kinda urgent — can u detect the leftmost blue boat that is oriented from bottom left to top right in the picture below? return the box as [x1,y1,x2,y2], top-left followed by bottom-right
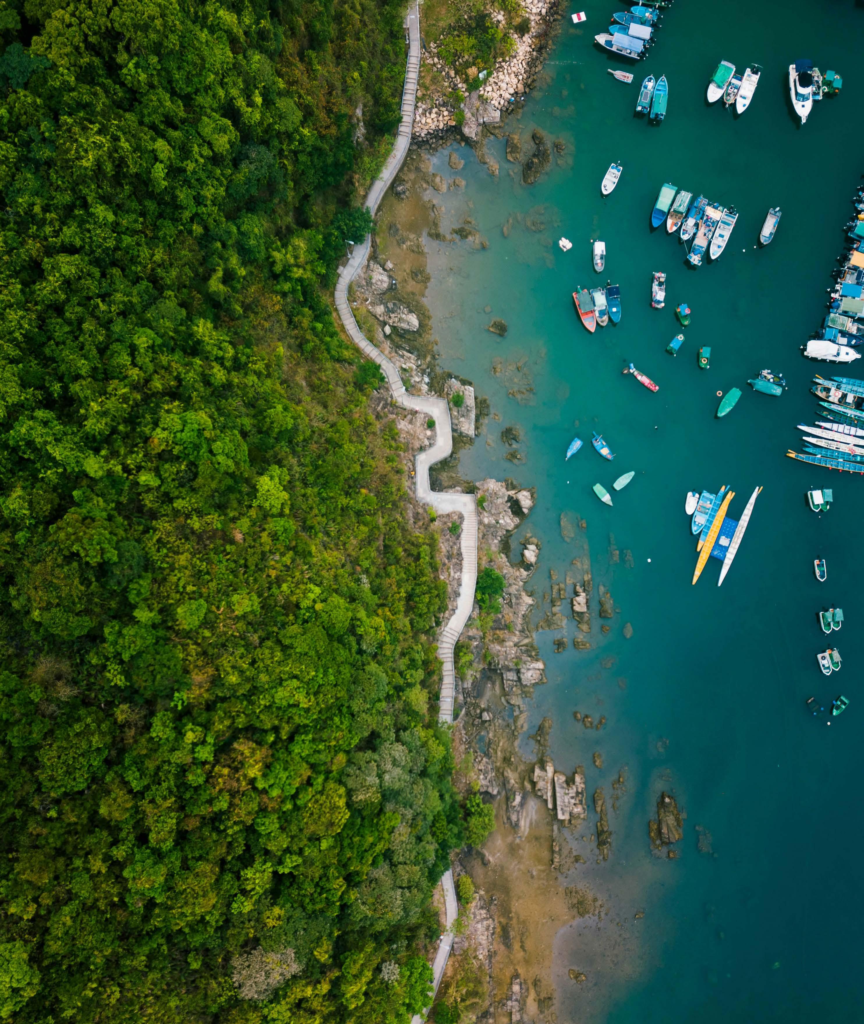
[566,439,582,460]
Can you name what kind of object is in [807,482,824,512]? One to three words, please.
boat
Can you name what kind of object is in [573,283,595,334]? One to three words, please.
boat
